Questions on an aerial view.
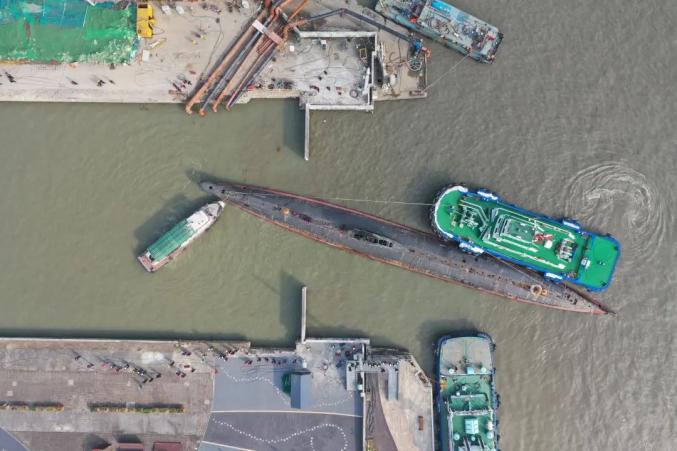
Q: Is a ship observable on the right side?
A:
Yes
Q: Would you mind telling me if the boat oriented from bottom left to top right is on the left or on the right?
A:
left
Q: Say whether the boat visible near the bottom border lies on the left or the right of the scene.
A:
right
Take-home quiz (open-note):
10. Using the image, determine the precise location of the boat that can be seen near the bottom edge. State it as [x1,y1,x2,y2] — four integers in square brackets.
[433,331,498,451]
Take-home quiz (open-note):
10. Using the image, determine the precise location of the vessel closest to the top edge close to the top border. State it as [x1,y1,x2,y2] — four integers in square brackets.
[376,0,506,64]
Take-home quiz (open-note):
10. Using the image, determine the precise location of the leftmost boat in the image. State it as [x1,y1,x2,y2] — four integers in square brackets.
[137,202,227,273]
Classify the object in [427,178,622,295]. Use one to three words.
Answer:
boat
